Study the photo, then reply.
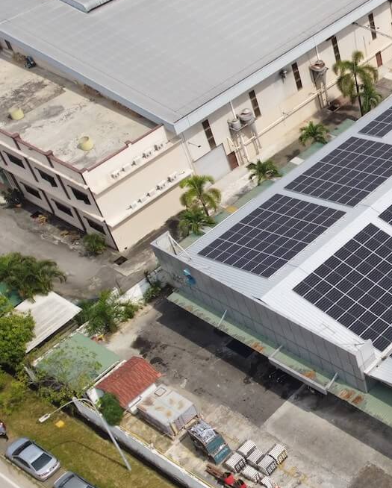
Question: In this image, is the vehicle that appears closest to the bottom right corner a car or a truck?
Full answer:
From above, the vehicle that appears closest to the bottom right corner can be identified as a truck.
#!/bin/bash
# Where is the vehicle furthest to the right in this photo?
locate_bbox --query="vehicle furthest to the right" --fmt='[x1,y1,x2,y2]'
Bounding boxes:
[182,419,236,471]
